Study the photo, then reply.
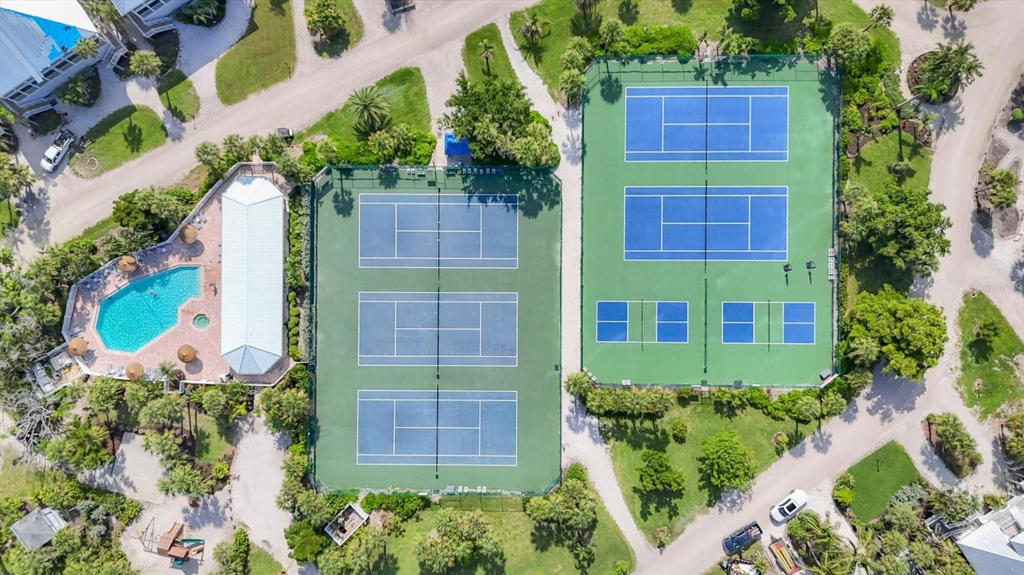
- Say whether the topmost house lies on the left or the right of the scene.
left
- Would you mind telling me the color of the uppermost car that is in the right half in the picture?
white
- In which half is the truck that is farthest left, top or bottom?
top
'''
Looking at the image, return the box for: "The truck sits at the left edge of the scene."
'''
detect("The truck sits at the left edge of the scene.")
[43,130,80,172]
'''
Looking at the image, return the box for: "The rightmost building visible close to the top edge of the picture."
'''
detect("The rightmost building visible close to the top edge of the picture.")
[112,0,189,40]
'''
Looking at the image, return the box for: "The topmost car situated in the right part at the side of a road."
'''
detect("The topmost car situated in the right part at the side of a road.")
[766,488,808,519]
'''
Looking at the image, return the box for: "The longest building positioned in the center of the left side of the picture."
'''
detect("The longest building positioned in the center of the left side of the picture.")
[220,177,289,374]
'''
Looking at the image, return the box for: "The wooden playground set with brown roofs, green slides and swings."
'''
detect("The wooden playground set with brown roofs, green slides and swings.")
[138,518,205,569]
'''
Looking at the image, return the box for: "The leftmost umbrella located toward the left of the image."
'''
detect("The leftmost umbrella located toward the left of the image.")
[70,338,88,356]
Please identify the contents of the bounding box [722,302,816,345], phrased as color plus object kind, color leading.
blue sports court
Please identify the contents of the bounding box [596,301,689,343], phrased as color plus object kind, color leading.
blue sports court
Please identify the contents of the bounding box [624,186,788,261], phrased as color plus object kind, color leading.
blue tennis court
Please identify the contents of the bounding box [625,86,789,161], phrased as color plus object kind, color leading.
blue tennis court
